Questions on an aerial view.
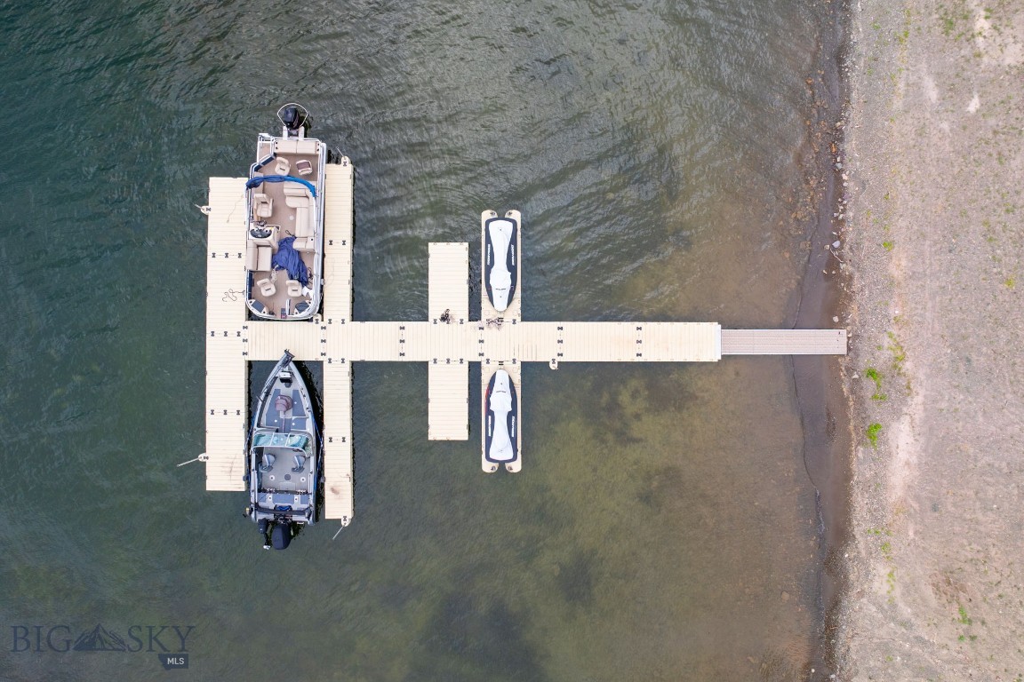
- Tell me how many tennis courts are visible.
0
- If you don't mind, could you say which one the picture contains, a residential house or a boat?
boat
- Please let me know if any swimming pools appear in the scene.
No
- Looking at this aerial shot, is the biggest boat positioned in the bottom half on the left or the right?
left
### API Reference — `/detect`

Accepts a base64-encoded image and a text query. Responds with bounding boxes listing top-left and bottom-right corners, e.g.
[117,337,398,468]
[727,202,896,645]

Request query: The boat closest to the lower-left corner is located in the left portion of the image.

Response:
[244,349,318,550]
